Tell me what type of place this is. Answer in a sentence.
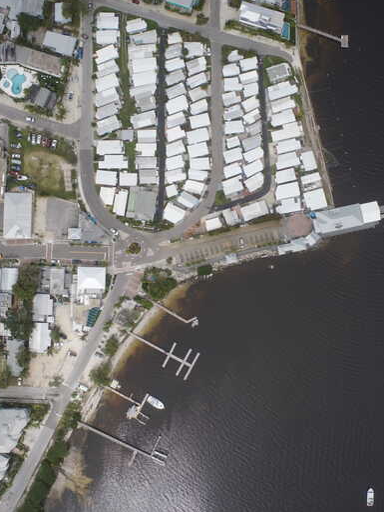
This image shows a residential area.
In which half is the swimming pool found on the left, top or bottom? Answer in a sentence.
The swimming pool found on the left is in the top half of the image.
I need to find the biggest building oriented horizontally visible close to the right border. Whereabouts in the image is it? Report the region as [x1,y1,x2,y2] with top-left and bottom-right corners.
[313,200,381,237]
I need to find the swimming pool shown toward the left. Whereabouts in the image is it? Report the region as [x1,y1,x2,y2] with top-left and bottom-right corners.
[0,65,42,98]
